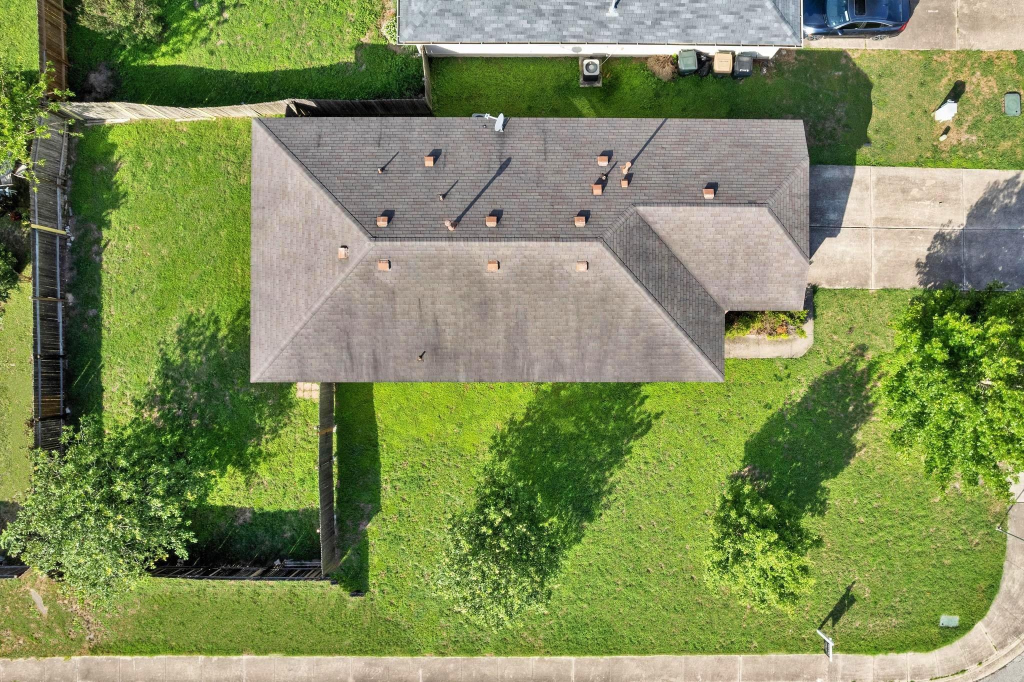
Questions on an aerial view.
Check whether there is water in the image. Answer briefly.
No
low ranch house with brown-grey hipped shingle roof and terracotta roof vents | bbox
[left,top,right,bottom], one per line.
[250,118,810,383]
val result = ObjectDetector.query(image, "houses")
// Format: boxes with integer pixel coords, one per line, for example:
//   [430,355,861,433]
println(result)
[397,0,801,56]
[250,118,810,383]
